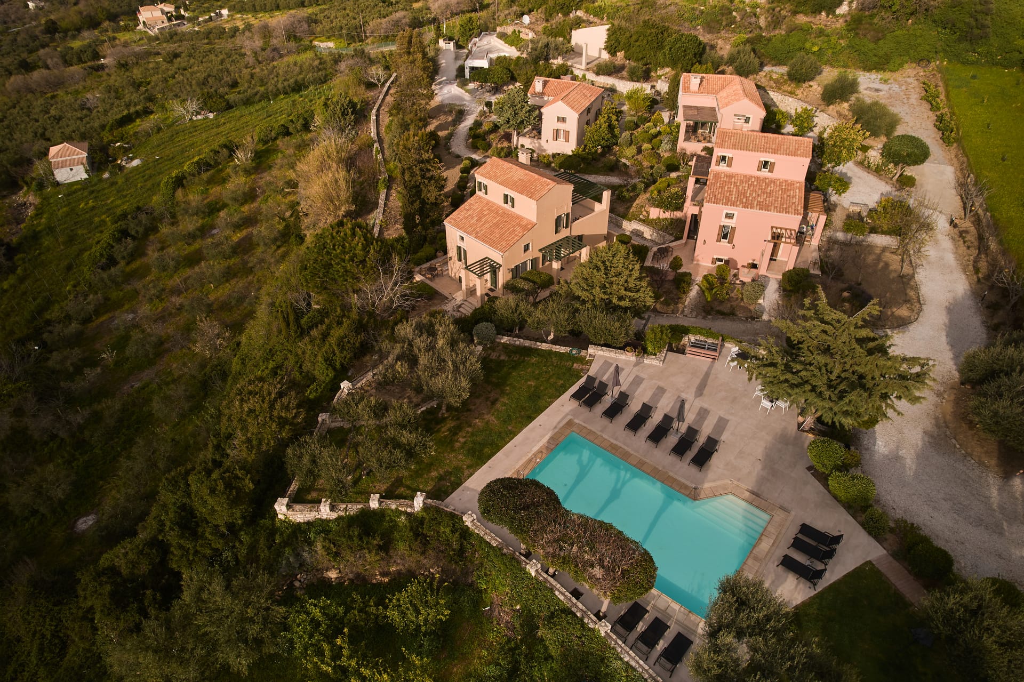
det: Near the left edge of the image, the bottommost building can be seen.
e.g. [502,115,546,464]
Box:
[51,139,106,184]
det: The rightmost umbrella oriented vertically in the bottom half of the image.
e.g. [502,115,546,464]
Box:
[671,400,685,438]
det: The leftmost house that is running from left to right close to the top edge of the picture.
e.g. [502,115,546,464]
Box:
[141,4,199,36]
